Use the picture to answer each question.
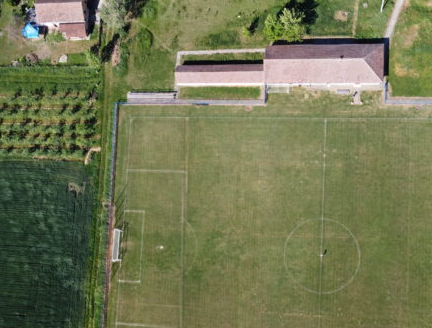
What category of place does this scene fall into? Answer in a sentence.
This looks like a sports ground.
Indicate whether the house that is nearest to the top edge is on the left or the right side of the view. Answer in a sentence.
The house that is nearest to the top edge is on the left side of the image.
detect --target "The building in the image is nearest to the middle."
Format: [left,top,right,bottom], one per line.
[174,64,263,87]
